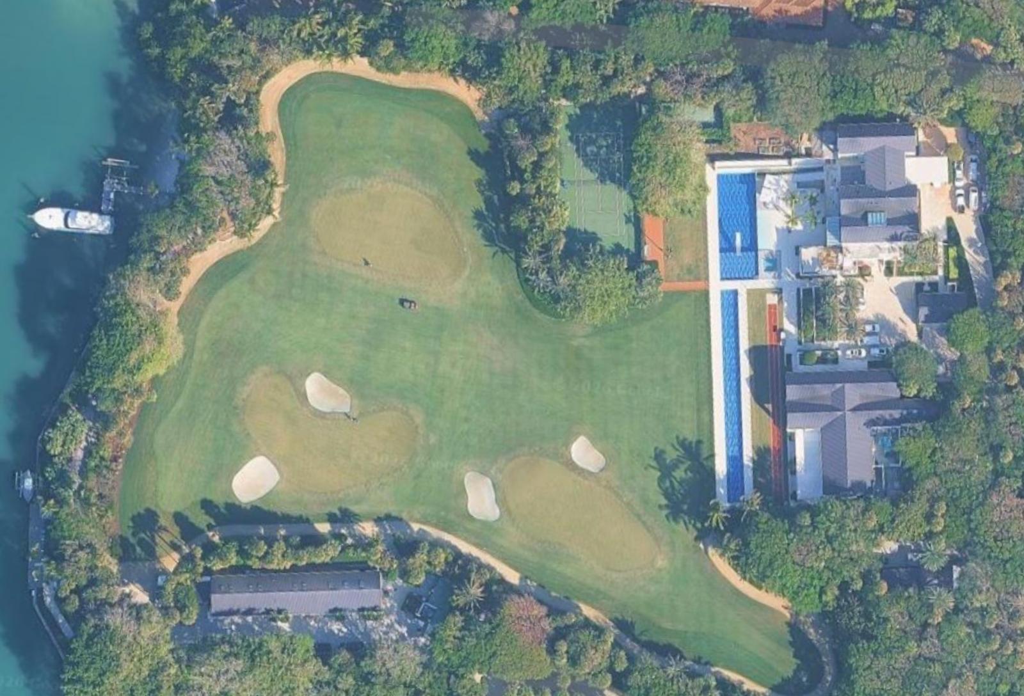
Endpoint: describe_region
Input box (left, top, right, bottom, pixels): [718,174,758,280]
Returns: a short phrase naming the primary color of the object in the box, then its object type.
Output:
blue swimming pool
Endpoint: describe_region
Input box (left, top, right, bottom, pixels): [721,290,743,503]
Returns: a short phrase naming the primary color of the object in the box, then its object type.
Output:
blue swimming pool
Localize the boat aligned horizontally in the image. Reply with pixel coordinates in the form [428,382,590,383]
[28,208,117,236]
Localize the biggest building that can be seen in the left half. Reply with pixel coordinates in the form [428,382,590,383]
[209,571,381,617]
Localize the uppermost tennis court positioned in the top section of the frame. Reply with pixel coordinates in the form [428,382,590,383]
[558,101,643,257]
